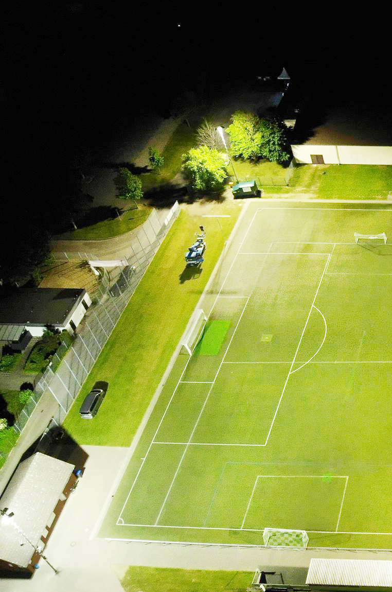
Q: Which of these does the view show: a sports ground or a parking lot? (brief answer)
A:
sports ground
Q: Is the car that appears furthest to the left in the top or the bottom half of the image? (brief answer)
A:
bottom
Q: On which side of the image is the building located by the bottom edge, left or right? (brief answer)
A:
left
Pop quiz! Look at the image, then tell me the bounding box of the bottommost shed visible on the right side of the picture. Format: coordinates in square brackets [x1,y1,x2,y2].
[230,181,264,200]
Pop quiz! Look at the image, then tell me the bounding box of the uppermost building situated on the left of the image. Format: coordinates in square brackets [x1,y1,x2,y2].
[0,287,93,340]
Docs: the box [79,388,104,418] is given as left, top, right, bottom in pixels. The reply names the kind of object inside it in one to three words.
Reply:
car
